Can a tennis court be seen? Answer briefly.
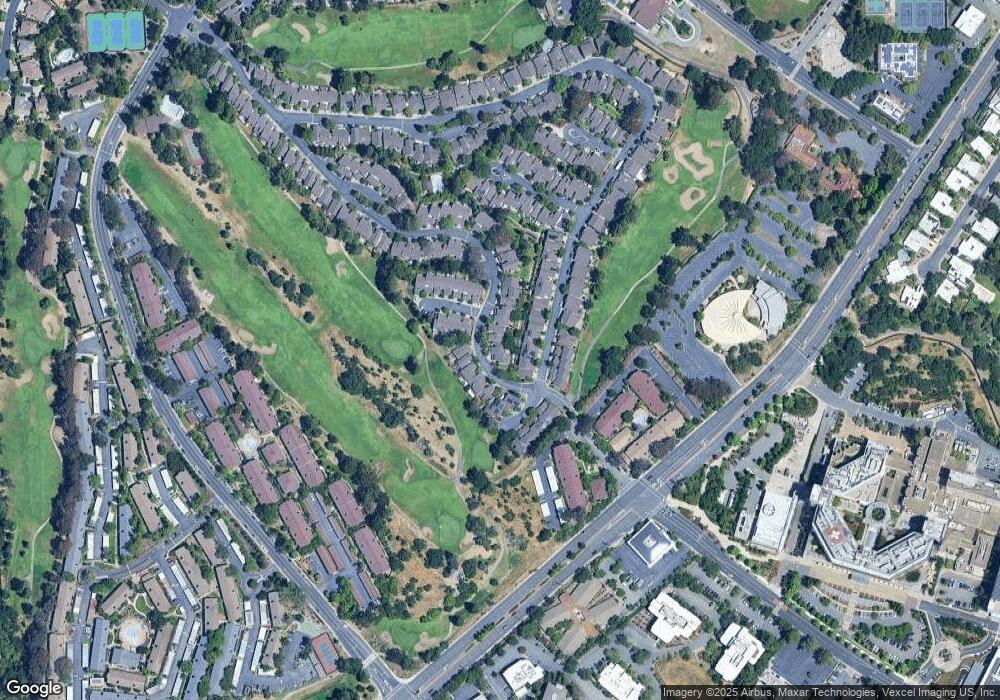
Yes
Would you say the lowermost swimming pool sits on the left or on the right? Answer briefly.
left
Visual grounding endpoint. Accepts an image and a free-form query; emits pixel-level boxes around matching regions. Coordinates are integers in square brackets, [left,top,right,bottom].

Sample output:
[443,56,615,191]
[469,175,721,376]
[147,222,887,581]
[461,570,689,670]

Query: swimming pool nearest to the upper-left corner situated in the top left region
[56,48,74,64]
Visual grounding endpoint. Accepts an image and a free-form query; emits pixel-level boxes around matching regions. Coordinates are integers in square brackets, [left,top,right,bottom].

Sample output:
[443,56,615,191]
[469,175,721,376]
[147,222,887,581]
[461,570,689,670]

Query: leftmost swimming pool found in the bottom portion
[118,617,147,647]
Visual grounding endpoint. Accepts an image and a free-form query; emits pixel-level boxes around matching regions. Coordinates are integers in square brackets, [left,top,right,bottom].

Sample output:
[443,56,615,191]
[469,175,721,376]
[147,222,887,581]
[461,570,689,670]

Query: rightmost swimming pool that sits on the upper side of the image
[431,174,443,193]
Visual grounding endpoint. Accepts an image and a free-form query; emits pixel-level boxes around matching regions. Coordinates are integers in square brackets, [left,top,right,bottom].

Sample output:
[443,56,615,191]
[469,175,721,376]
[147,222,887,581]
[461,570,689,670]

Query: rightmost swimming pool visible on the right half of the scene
[632,407,650,428]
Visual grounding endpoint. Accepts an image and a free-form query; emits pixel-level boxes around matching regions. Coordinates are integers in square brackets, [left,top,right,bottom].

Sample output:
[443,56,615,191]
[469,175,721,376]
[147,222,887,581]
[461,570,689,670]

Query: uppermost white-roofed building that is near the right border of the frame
[953,4,987,37]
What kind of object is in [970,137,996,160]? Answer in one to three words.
house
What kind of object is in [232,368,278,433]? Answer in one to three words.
building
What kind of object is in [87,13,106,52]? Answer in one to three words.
tennis court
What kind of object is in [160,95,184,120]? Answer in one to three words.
swimming pool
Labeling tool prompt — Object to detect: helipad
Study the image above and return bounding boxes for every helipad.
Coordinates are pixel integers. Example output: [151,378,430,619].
[829,527,849,547]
